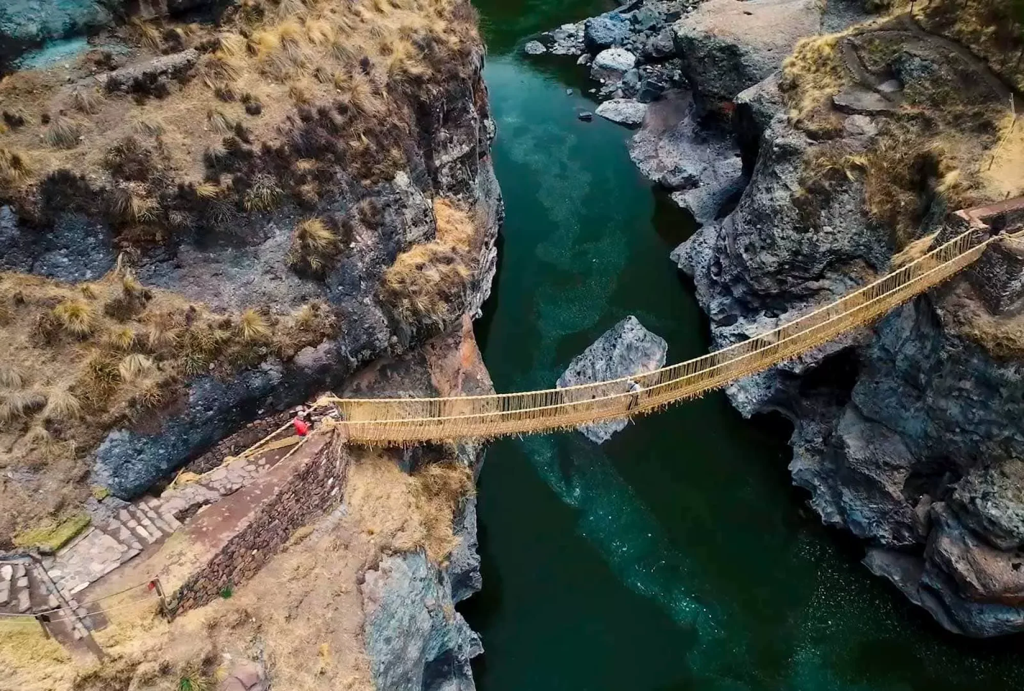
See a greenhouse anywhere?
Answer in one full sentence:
No, no greenhouse is visible in the view.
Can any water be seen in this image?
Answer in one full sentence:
Yes, water can be seen from above here.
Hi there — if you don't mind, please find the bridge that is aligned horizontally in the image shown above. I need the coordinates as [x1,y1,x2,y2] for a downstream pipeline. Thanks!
[185,212,1024,490]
